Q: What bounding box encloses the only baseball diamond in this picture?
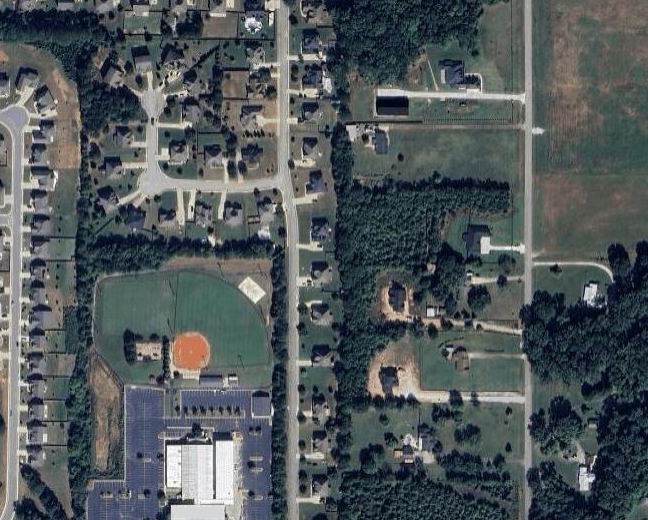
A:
[170,270,269,387]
